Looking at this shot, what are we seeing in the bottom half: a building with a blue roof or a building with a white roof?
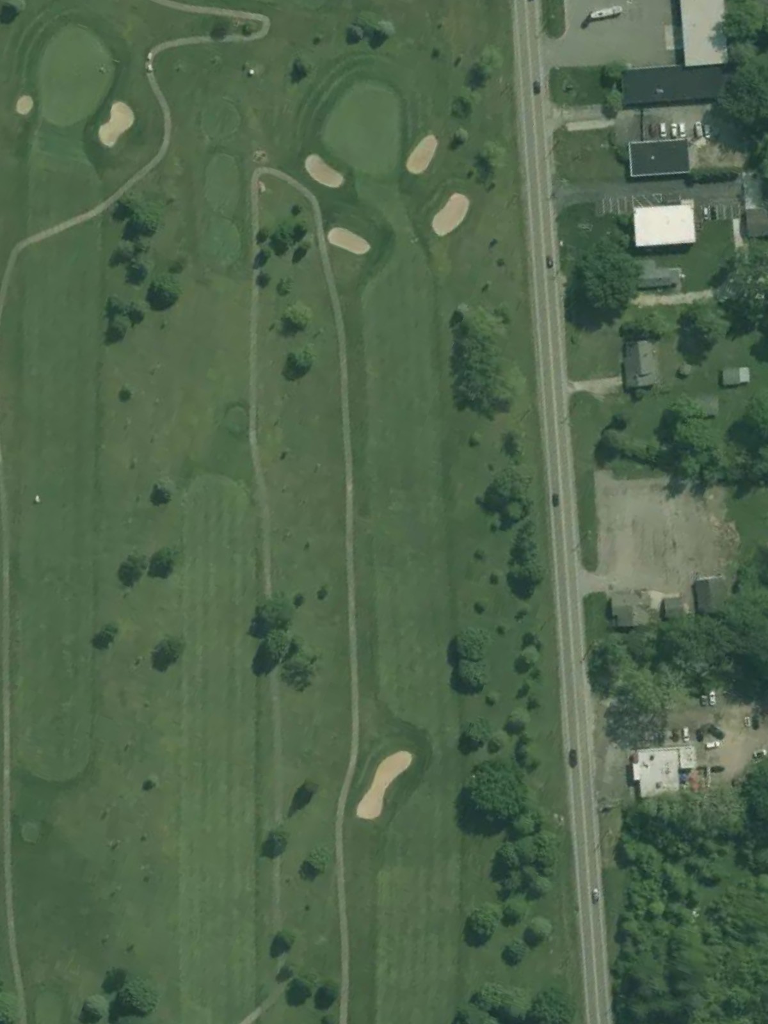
building with a white roof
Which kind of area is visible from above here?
golf course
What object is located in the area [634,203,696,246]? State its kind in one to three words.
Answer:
building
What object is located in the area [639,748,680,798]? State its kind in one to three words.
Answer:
building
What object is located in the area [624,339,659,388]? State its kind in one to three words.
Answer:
house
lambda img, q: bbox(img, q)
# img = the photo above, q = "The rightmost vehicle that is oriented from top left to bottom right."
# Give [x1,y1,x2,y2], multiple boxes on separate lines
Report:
[708,725,725,738]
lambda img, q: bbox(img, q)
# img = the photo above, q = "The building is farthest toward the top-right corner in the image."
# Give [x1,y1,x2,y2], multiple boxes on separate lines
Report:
[682,0,727,66]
